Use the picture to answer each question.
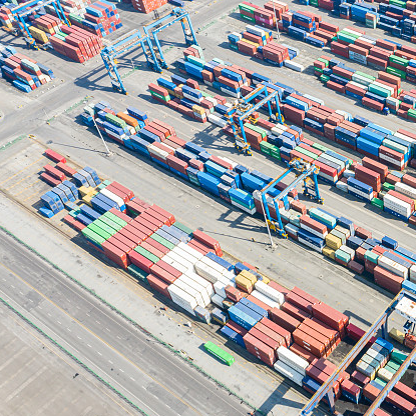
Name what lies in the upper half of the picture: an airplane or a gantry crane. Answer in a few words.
gantry crane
